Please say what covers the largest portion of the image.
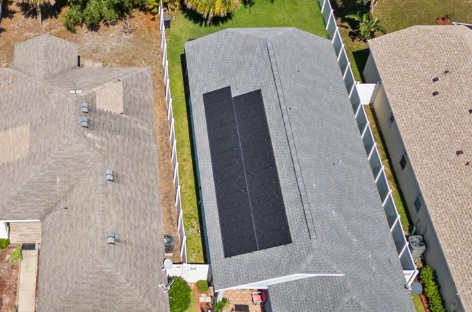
buildings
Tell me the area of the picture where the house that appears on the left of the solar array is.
left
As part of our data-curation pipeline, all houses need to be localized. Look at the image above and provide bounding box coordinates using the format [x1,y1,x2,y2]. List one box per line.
[184,29,416,312]
[0,34,172,312]
[363,26,472,312]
